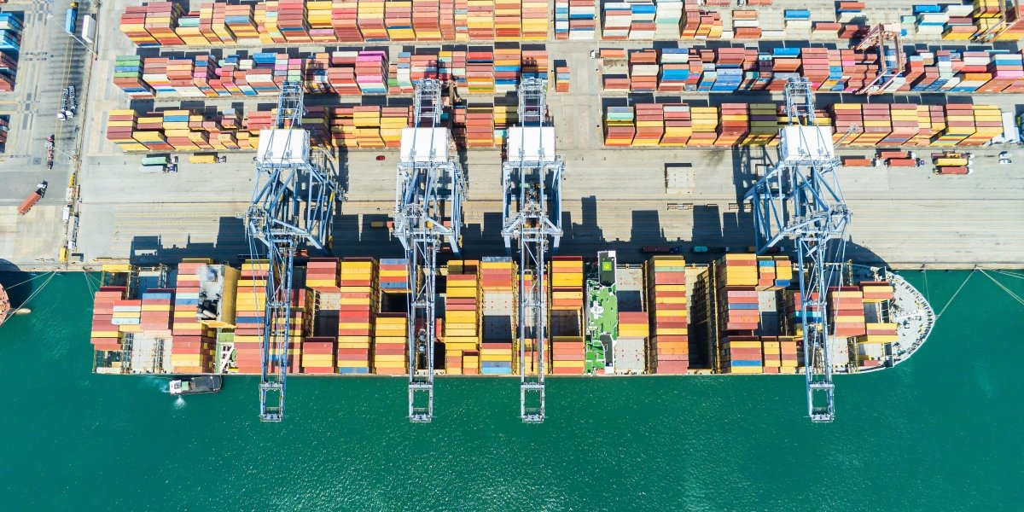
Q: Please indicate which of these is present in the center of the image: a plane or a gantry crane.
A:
gantry crane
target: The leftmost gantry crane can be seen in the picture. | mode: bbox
[241,81,349,421]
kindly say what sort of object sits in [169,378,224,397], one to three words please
boat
